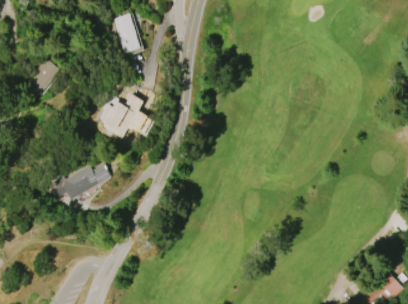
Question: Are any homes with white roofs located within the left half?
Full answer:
Yes, you'll find a home with a white roof within the left half.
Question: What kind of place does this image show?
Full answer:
It's a golf course.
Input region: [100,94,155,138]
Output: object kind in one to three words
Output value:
house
